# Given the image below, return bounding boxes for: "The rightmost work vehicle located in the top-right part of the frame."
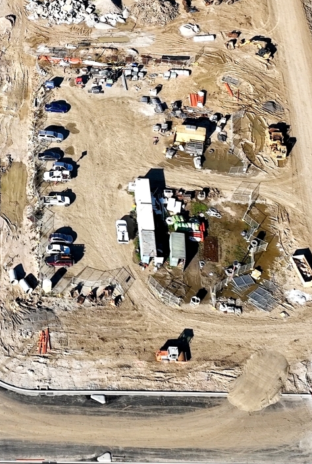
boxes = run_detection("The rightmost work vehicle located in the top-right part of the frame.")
[231,36,281,62]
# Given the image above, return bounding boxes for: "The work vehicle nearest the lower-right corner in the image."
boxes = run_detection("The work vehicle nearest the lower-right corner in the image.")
[155,343,194,364]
